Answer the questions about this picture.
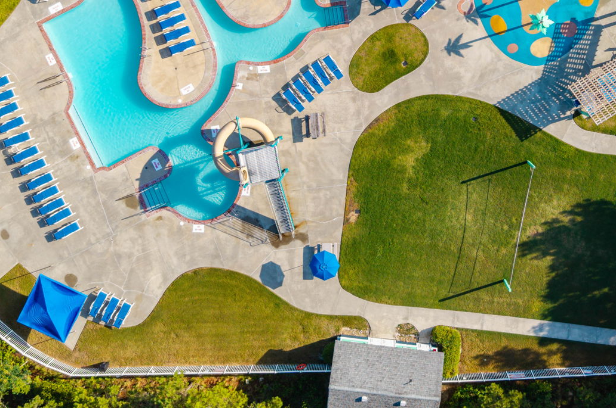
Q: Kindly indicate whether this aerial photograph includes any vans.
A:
No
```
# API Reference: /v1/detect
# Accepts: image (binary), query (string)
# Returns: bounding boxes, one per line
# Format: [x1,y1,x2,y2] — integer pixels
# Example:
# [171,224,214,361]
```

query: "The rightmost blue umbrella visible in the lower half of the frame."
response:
[308,246,343,280]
